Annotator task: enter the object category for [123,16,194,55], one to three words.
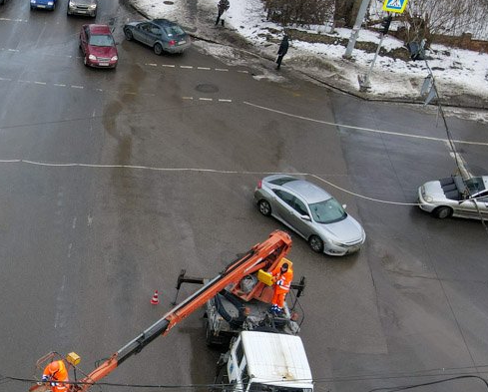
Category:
car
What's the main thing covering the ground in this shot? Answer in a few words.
paved ground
